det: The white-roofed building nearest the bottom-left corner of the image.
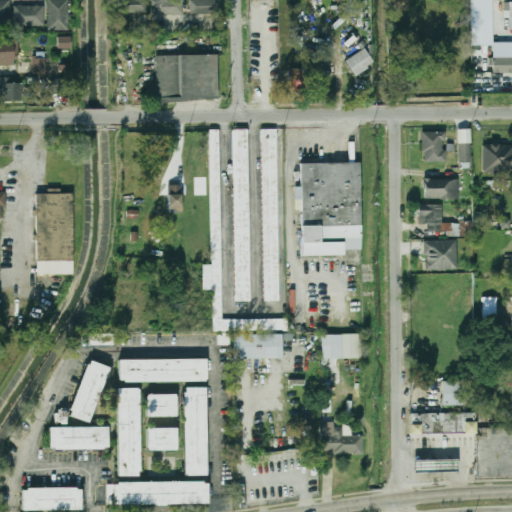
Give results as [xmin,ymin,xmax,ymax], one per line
[21,487,83,510]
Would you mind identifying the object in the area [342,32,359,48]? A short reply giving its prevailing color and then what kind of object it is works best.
white camper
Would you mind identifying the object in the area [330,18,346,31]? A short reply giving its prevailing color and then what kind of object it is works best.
white vehicle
